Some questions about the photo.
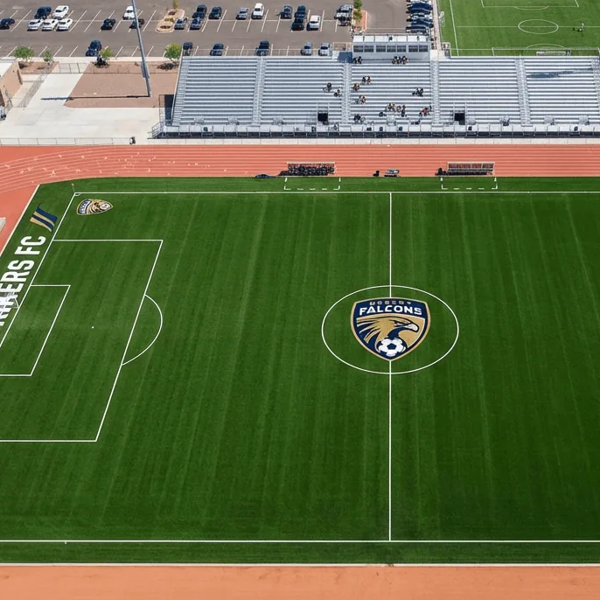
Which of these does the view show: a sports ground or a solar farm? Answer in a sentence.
What you see here is a sports ground.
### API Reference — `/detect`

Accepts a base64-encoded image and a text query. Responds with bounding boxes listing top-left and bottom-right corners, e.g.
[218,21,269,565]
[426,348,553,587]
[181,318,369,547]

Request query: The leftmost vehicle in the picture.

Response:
[0,14,14,30]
